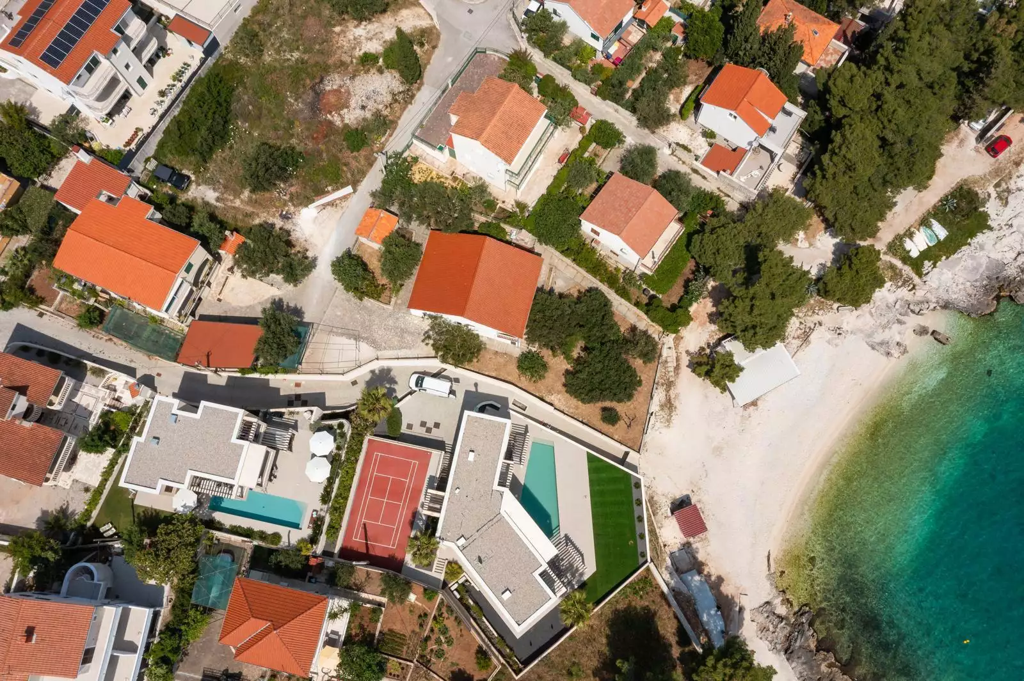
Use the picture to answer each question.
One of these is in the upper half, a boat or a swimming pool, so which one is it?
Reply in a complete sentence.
It is a boat that can be seen in the upper half.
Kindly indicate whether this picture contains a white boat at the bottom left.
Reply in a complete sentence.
No, looking at the bottom left, there is no white boat.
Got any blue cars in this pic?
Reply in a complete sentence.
No, I can't see a single blue car in this photo.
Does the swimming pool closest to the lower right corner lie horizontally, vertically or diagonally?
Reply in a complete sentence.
The swimming pool closest to the lower right corner is laid out vertically.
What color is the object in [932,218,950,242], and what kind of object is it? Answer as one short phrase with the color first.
white boat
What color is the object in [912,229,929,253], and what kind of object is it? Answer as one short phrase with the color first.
white boat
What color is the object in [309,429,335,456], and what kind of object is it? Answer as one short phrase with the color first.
white umbrella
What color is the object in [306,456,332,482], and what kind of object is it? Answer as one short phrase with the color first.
white umbrella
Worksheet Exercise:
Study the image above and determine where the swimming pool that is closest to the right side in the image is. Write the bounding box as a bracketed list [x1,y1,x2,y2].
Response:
[520,438,559,538]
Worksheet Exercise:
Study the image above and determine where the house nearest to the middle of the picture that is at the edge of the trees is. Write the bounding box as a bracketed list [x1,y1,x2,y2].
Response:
[408,230,544,350]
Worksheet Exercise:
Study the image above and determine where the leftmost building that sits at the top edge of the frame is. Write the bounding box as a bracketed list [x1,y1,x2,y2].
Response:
[0,0,162,122]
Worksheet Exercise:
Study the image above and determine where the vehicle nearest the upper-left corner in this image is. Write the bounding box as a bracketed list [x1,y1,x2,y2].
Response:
[152,162,192,191]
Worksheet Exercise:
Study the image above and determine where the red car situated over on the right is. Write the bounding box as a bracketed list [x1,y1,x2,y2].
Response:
[982,134,1012,161]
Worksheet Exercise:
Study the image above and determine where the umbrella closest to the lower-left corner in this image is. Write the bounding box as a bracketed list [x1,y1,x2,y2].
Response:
[175,490,199,512]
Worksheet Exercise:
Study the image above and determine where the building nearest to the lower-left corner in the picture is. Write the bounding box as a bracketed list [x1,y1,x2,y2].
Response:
[0,560,162,681]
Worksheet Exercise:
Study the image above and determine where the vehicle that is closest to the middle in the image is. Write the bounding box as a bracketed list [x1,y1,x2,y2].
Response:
[413,375,452,399]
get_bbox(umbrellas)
[175,490,199,512]
[317,646,342,669]
[603,45,621,64]
[306,456,332,482]
[309,429,335,456]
